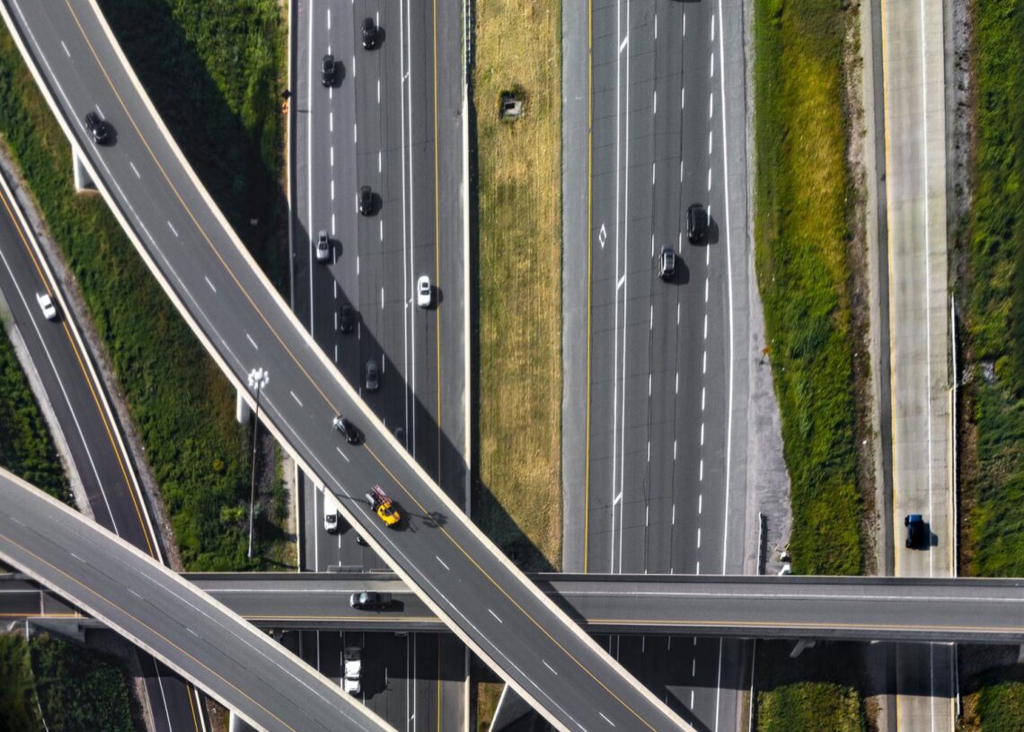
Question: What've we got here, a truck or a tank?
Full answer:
There is a truck in the scene.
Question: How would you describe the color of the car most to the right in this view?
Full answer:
The color of the car most to the right is black.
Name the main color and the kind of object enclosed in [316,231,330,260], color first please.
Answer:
gray car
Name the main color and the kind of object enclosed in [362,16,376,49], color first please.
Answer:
black car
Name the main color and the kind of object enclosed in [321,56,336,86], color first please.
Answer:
black car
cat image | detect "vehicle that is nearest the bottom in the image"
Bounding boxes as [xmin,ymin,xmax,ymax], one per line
[345,646,361,694]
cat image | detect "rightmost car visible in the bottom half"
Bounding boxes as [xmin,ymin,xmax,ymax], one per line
[904,516,924,547]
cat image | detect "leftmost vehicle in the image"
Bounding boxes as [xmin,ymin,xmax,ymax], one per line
[35,288,59,324]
